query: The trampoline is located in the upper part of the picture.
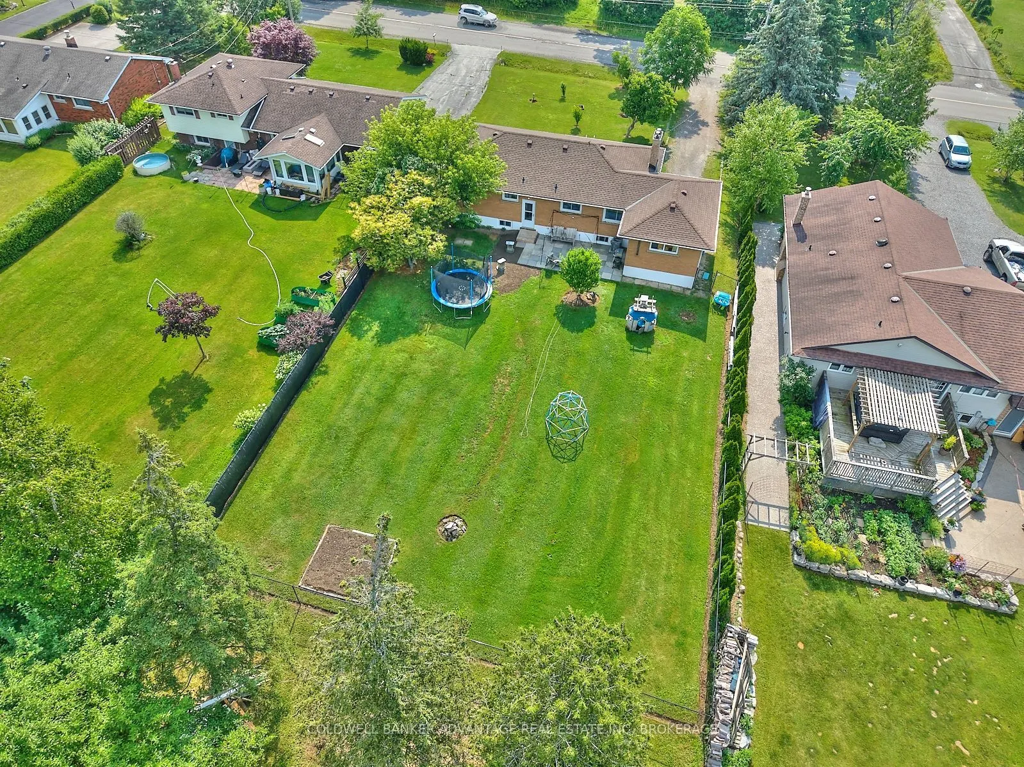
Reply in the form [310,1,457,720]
[427,249,492,322]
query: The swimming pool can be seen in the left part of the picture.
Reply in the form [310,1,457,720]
[129,153,173,178]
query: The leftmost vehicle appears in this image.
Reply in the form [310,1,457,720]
[456,3,500,27]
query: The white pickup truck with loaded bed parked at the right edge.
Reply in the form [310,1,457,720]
[975,233,1024,271]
